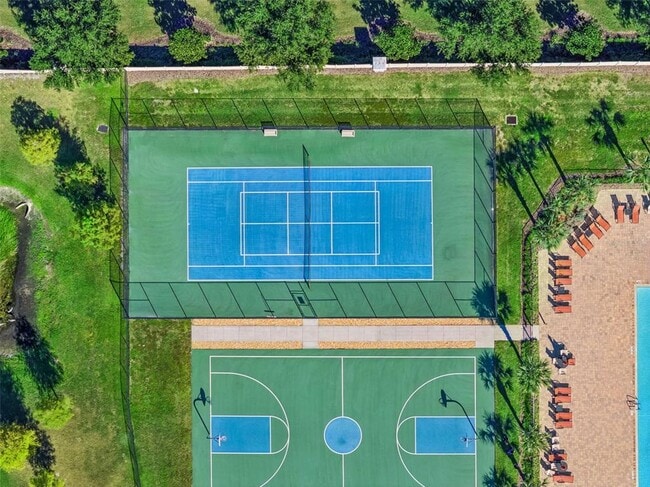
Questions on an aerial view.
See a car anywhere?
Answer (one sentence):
No, I find no car anywhere in the image.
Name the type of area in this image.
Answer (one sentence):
This image shows a sports ground.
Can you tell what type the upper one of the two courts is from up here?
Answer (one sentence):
The upper one of the two courts appears to be a tennis court.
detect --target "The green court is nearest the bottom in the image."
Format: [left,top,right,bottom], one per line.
[192,349,494,487]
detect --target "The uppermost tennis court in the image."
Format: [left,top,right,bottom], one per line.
[128,130,493,317]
